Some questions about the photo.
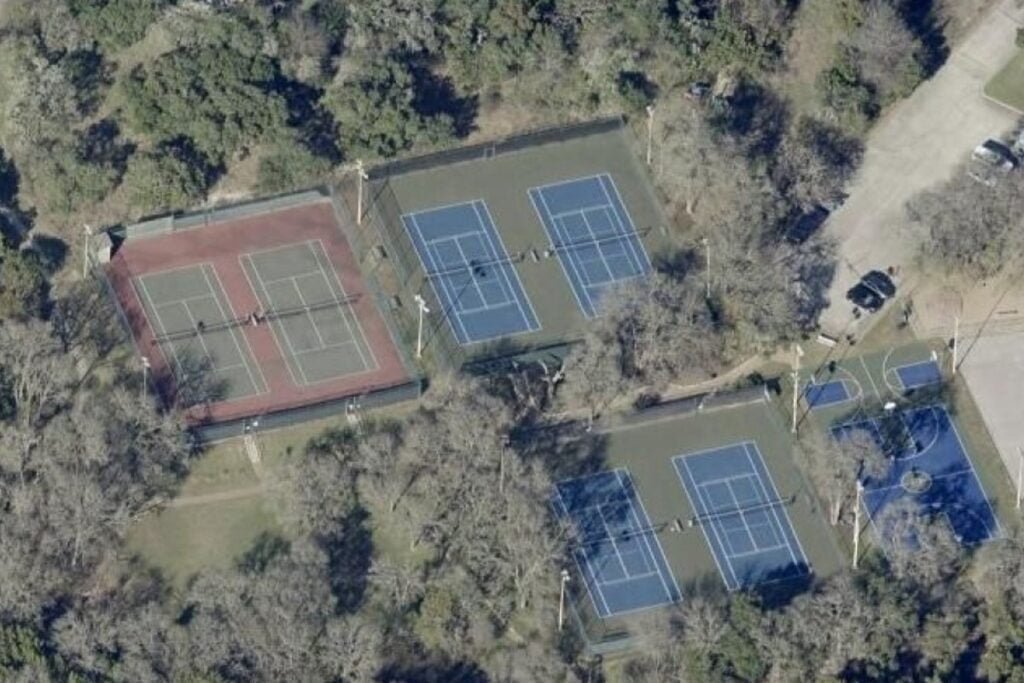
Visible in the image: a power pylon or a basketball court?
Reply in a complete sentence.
The one in the frame is a basketball court.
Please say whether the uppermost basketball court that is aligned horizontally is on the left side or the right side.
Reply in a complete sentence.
The uppermost basketball court that is aligned horizontally sits on the right side.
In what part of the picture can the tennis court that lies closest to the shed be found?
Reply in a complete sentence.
The tennis court that lies closest to the shed is in the left part of the image.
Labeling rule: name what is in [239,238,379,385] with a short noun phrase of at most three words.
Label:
tennis court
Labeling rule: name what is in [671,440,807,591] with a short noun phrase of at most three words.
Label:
tennis court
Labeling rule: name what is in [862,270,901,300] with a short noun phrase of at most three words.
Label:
car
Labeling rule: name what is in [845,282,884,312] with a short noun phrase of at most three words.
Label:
car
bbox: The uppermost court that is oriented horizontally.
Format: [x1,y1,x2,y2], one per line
[791,346,954,425]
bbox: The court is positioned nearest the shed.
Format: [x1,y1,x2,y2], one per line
[130,262,269,409]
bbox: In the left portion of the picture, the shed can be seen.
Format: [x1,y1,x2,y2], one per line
[94,227,116,261]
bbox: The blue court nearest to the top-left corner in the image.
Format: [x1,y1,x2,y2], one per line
[402,199,542,345]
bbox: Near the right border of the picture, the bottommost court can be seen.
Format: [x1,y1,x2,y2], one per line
[830,405,1003,555]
